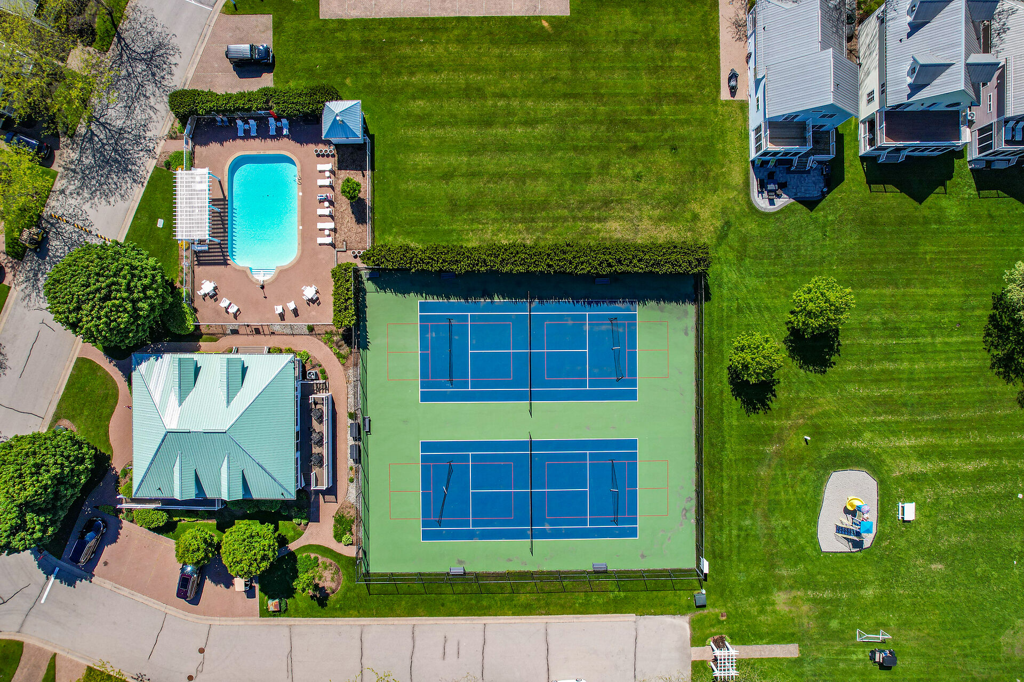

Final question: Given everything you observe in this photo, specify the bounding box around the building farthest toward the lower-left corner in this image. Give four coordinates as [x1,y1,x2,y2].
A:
[129,351,308,503]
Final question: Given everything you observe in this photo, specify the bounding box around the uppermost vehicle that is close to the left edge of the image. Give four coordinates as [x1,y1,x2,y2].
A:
[7,128,56,164]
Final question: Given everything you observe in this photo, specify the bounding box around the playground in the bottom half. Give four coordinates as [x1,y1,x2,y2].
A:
[834,495,873,542]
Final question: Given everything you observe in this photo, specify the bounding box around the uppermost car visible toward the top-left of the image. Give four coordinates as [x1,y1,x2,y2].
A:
[227,43,273,67]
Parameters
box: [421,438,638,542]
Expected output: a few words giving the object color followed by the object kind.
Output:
blue tennis court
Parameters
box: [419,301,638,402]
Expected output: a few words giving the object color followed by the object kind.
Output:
blue tennis court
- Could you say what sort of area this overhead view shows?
residential area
